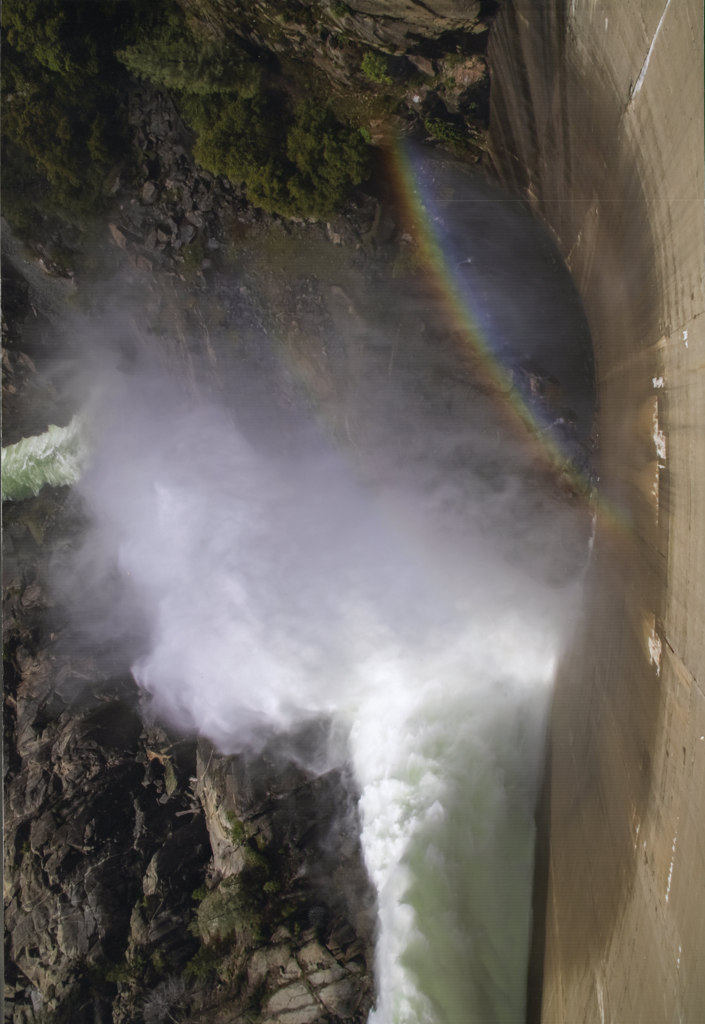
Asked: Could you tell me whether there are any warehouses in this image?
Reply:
No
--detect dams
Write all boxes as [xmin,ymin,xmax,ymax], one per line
[462,0,705,1024]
